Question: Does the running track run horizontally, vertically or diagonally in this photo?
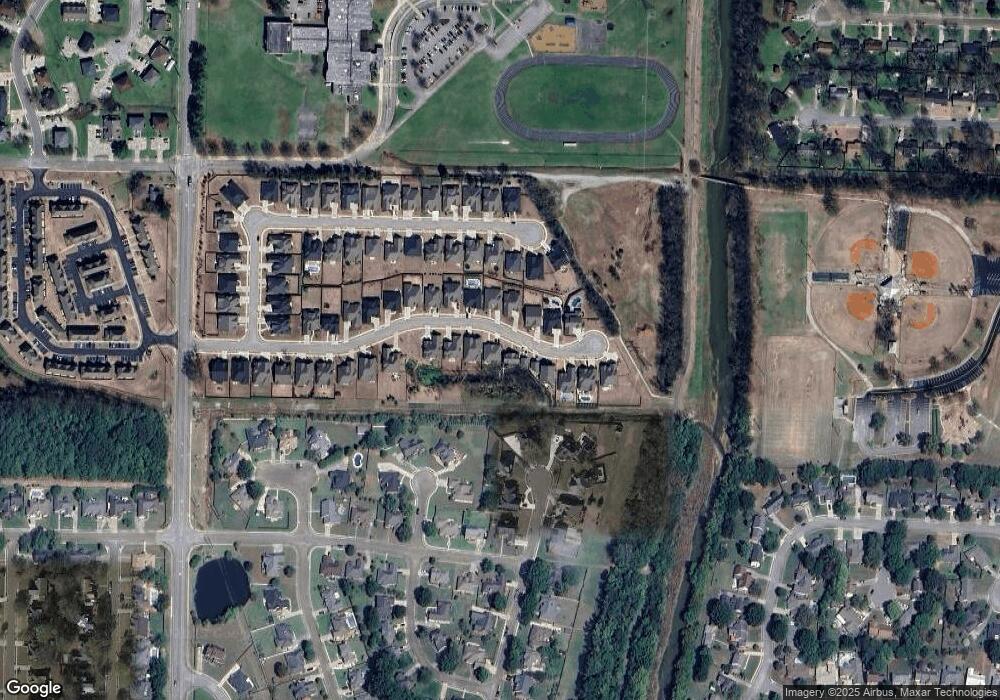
horizontally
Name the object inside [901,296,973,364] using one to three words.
baseball field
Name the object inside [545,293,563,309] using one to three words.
swimming pool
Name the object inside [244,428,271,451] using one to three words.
house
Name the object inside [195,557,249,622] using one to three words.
pond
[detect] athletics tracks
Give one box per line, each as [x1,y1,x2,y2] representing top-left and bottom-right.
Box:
[494,54,682,142]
